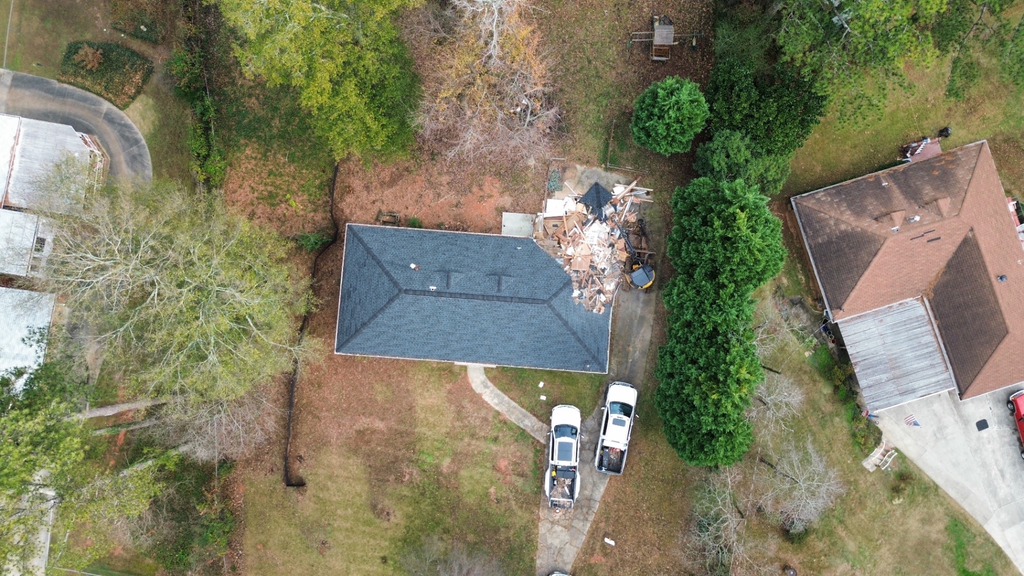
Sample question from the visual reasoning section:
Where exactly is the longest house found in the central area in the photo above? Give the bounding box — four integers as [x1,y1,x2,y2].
[333,223,622,375]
